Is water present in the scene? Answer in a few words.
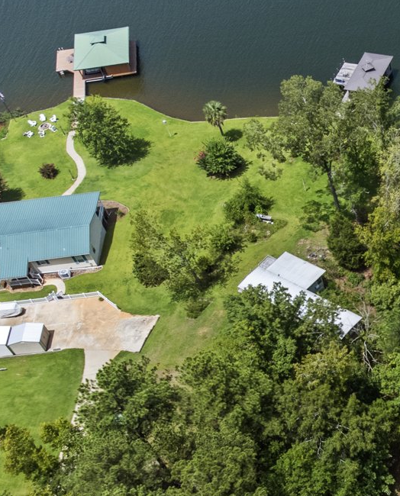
Yes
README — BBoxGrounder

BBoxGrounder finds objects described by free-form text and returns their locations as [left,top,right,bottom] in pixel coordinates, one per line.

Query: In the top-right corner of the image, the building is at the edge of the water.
[339,51,393,113]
